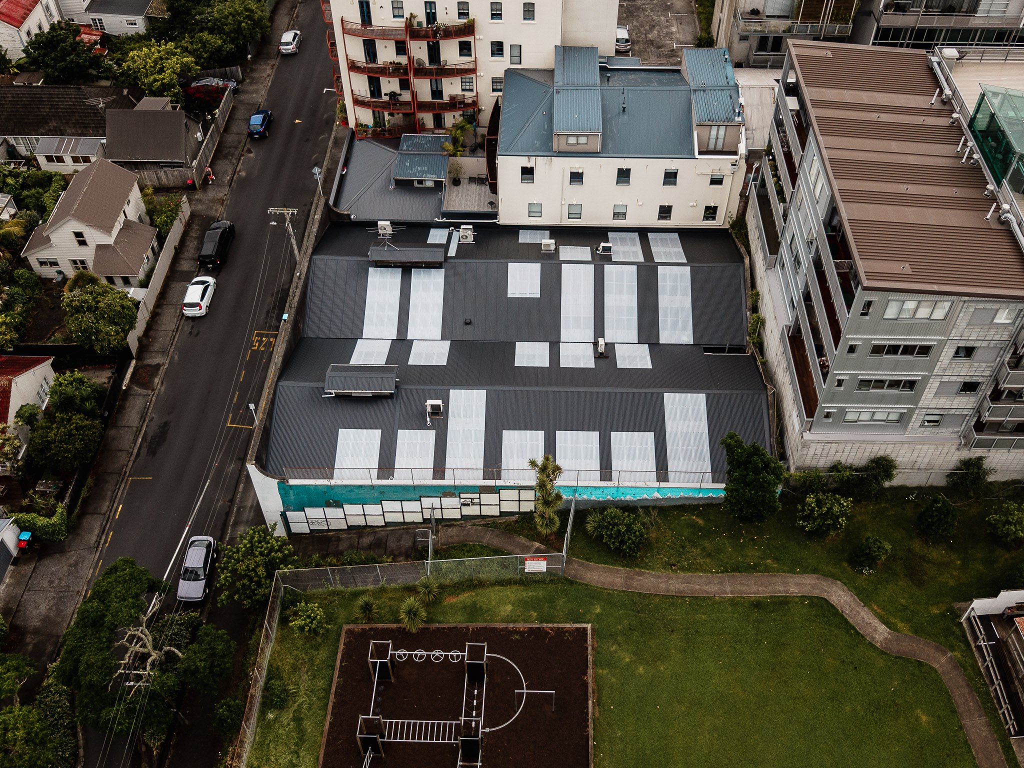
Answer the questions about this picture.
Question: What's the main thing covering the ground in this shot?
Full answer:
What you mostly see from above here is buildings.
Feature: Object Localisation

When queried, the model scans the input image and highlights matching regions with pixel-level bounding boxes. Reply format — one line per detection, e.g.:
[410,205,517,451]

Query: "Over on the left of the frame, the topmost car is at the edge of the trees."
[278,34,302,57]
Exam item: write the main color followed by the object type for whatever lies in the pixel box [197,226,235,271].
black car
